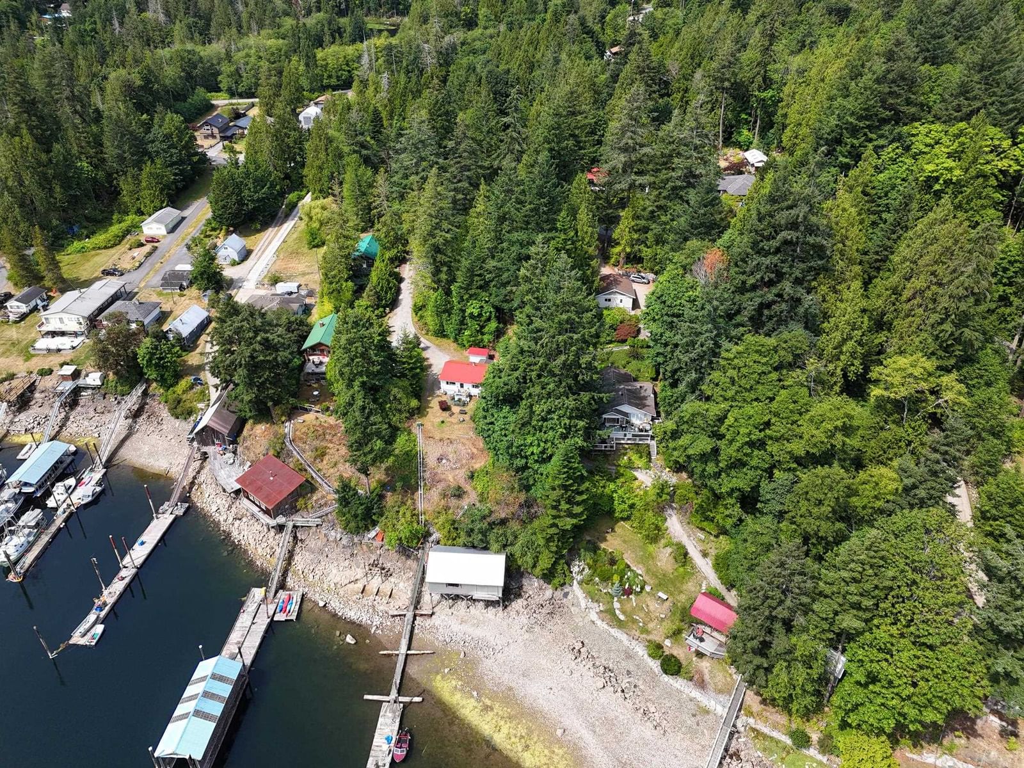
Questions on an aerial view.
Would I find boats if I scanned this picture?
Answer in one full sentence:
Yes, the image includes a boat.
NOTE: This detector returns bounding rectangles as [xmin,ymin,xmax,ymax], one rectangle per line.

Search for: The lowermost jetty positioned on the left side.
[363,701,404,768]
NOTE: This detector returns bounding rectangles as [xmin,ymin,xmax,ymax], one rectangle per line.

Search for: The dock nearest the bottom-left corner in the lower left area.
[70,568,135,644]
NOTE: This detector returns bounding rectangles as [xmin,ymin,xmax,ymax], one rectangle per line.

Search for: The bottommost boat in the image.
[392,728,411,765]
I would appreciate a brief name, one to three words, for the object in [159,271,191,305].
building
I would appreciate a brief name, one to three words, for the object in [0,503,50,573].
boat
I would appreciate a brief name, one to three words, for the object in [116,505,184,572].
pier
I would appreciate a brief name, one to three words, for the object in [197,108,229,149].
house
